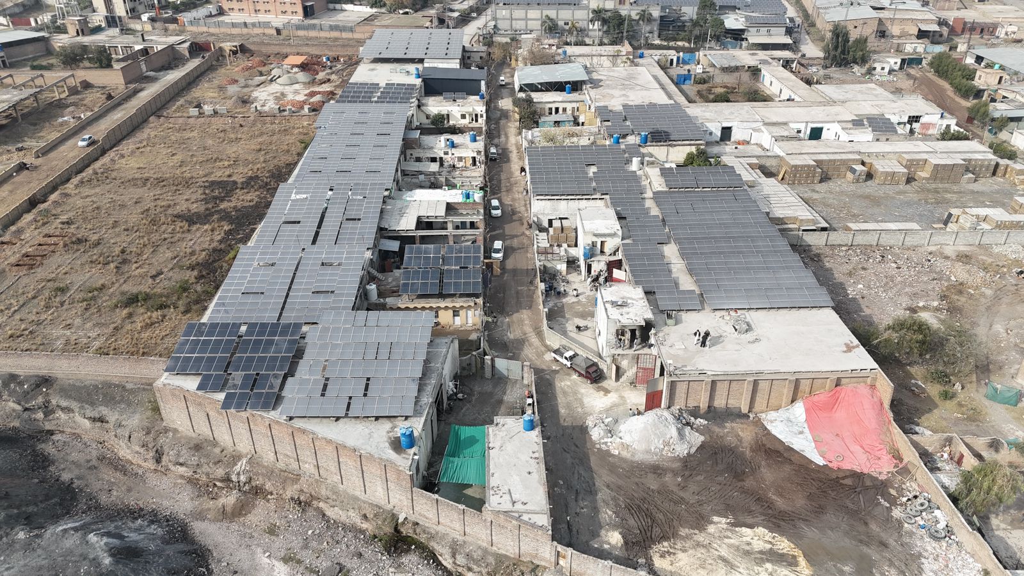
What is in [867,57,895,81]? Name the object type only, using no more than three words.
house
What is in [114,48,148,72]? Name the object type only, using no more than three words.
building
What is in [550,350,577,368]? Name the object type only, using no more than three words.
vehicle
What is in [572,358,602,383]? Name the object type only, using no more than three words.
truck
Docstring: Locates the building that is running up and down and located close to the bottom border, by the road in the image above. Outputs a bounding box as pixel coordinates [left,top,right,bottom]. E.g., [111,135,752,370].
[487,418,552,561]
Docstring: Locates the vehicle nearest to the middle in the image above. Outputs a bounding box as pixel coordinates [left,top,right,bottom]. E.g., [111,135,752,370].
[490,242,505,259]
